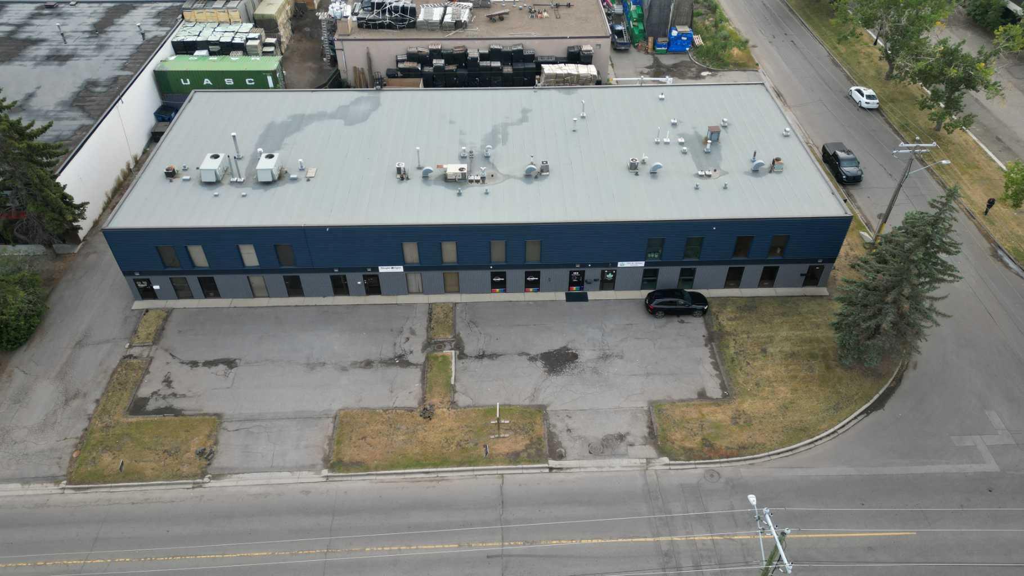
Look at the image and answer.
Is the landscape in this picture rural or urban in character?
urban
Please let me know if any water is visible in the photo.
No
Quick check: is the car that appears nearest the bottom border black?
Yes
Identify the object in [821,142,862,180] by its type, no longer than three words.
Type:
truck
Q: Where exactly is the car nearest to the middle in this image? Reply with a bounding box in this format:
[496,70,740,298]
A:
[645,288,709,318]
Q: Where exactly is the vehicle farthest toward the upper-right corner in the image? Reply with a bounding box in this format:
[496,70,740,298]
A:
[848,86,878,106]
